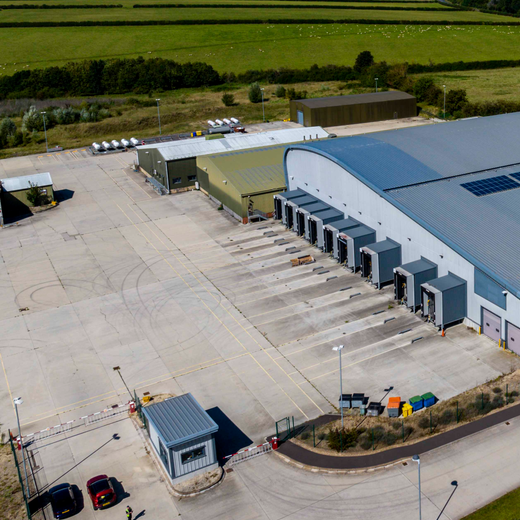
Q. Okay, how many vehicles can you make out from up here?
2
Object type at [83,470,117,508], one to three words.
car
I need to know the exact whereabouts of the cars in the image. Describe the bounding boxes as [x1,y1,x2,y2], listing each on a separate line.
[83,470,117,508]
[45,477,78,516]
